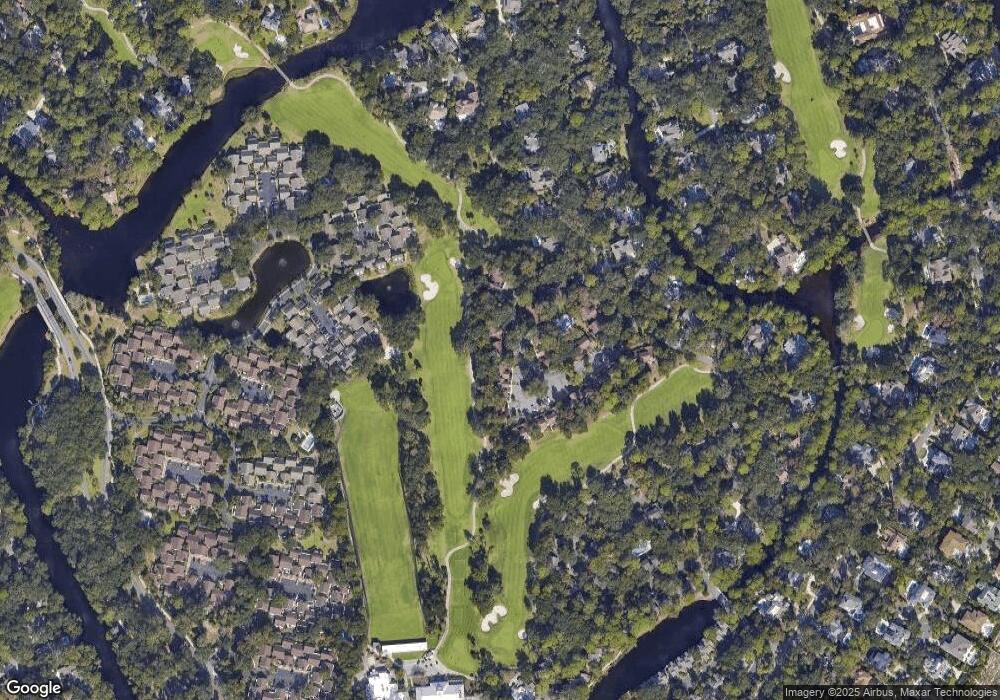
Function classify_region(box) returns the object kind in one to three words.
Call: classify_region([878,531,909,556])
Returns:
house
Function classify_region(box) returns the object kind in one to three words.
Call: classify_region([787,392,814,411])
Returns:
house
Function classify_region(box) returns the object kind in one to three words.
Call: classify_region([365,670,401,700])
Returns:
building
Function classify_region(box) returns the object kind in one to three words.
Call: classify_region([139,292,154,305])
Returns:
swimming pool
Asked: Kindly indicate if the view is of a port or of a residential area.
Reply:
residential area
